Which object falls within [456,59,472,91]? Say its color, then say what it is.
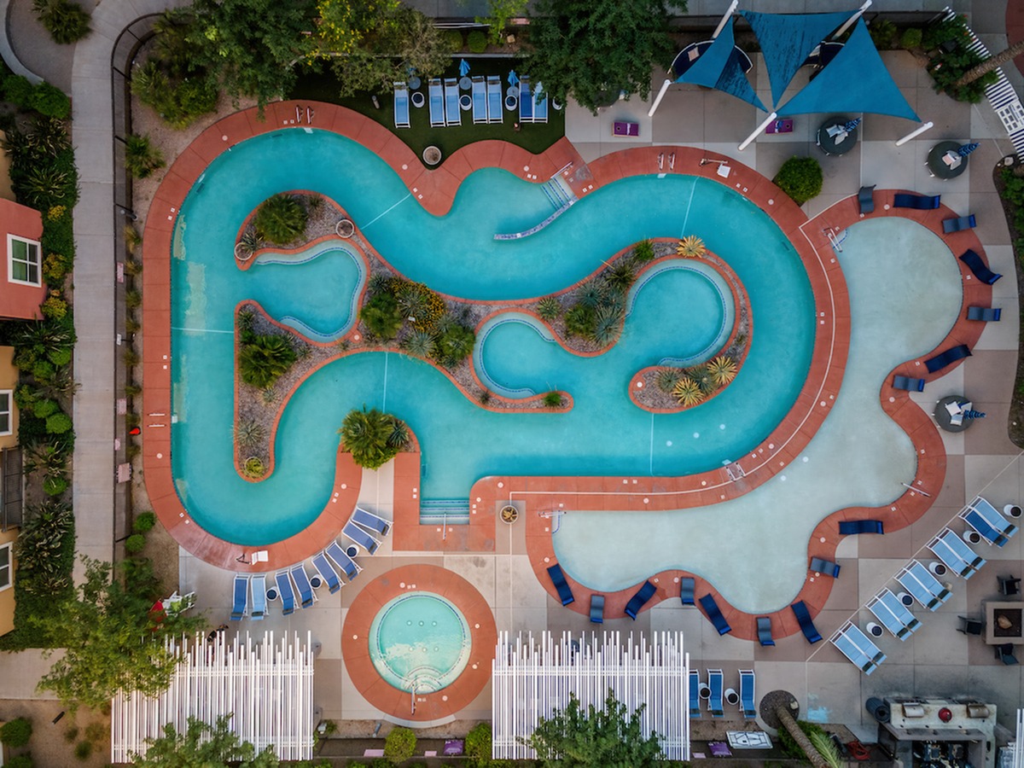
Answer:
blue umbrella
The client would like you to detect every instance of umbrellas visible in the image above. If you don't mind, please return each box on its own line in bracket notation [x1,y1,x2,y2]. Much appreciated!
[836,116,861,136]
[954,408,986,419]
[947,143,978,162]
[506,68,521,98]
[456,59,472,91]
